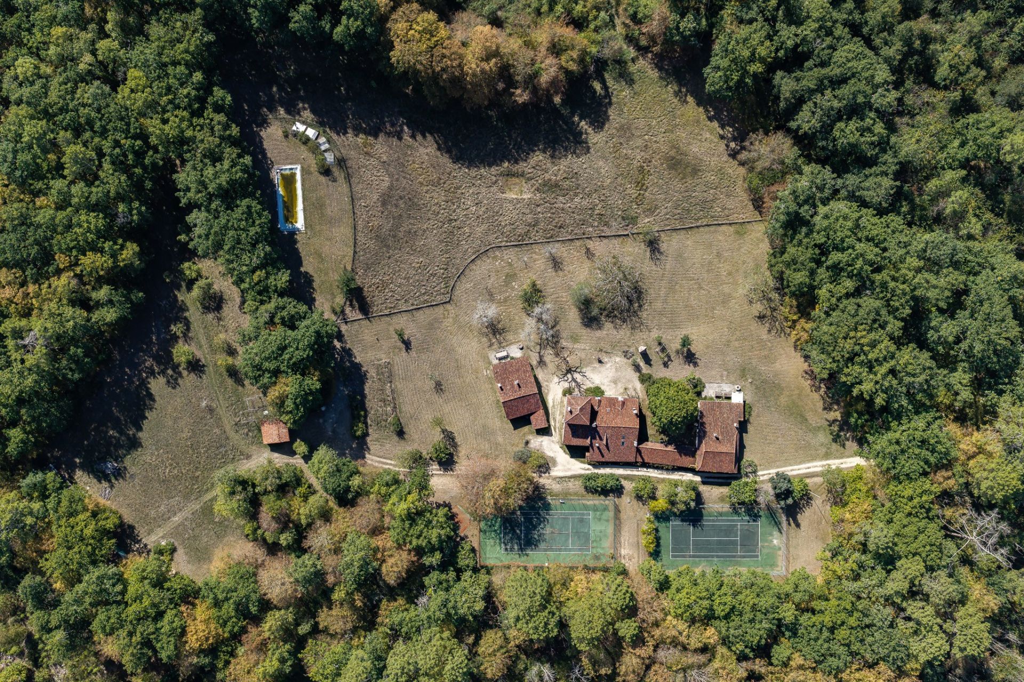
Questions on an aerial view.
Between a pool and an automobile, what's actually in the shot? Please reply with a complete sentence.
I can see a pool in this picture.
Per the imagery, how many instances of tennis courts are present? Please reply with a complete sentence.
Looking from above, you can make out 2 tennis courts.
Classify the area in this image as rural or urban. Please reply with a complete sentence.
From above, the setting appears rural.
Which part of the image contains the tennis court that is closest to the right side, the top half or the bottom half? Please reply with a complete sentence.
Seen from above, the tennis court that is closest to the right side lies in the bottom half of the view.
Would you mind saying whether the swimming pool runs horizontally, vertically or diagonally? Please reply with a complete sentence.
The swimming pool runs vertically in the image.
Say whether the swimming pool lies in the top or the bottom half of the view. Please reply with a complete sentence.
The swimming pool sits in the top half of the picture.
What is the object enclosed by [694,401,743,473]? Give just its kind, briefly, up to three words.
house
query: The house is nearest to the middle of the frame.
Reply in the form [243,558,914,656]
[493,357,548,429]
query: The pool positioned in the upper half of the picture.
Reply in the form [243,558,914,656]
[274,164,304,232]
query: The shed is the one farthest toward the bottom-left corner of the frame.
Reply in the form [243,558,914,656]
[261,421,292,444]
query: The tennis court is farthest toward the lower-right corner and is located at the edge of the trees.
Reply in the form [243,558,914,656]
[648,505,783,572]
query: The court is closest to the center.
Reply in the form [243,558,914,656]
[480,499,612,565]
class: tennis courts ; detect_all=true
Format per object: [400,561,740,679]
[648,505,783,572]
[480,499,612,565]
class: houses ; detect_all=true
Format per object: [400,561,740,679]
[563,395,639,462]
[694,401,743,473]
[493,357,548,429]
